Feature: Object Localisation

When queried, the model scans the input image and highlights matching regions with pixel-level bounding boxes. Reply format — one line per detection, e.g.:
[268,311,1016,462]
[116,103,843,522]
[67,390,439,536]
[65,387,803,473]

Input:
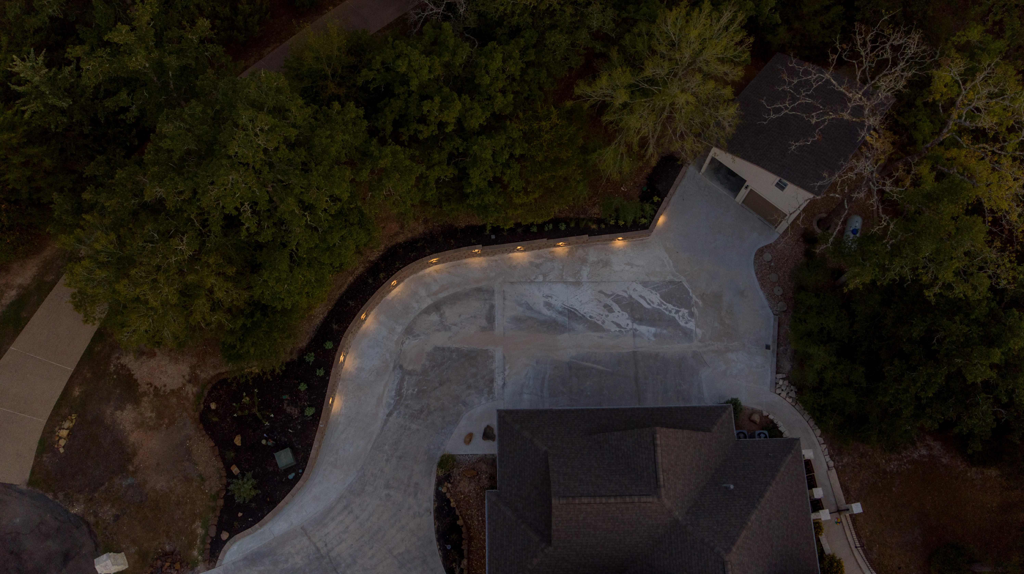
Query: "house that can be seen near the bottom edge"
[483,402,825,574]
